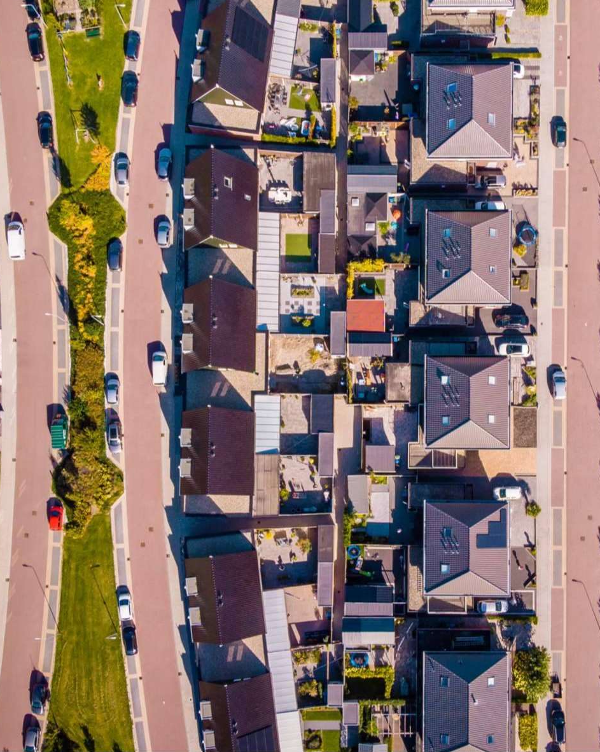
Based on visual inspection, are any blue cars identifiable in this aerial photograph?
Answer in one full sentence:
Yes, the picture does show a blue car.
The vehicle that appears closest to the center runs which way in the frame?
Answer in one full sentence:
I'd say the vehicle that appears closest to the center is aligned vertically in the picture.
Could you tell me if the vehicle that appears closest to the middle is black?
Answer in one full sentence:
No, the color of the vehicle that appears closest to the middle is white.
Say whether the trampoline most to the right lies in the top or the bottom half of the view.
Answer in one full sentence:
The trampoline most to the right is in the top half of the image.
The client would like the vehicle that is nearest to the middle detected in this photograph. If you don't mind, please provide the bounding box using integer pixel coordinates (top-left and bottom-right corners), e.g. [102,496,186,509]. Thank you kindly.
[147,346,168,388]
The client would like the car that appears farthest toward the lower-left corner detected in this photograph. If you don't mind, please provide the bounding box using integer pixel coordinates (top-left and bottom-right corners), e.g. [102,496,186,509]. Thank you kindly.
[20,723,42,752]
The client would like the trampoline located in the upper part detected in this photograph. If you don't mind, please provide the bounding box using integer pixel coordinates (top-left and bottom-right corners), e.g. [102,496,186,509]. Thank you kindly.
[518,221,538,242]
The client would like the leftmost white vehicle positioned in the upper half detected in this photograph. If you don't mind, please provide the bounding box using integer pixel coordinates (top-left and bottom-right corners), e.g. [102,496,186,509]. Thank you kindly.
[2,218,25,260]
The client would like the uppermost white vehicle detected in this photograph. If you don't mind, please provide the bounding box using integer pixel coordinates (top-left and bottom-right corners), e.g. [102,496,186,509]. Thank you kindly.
[494,58,527,78]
